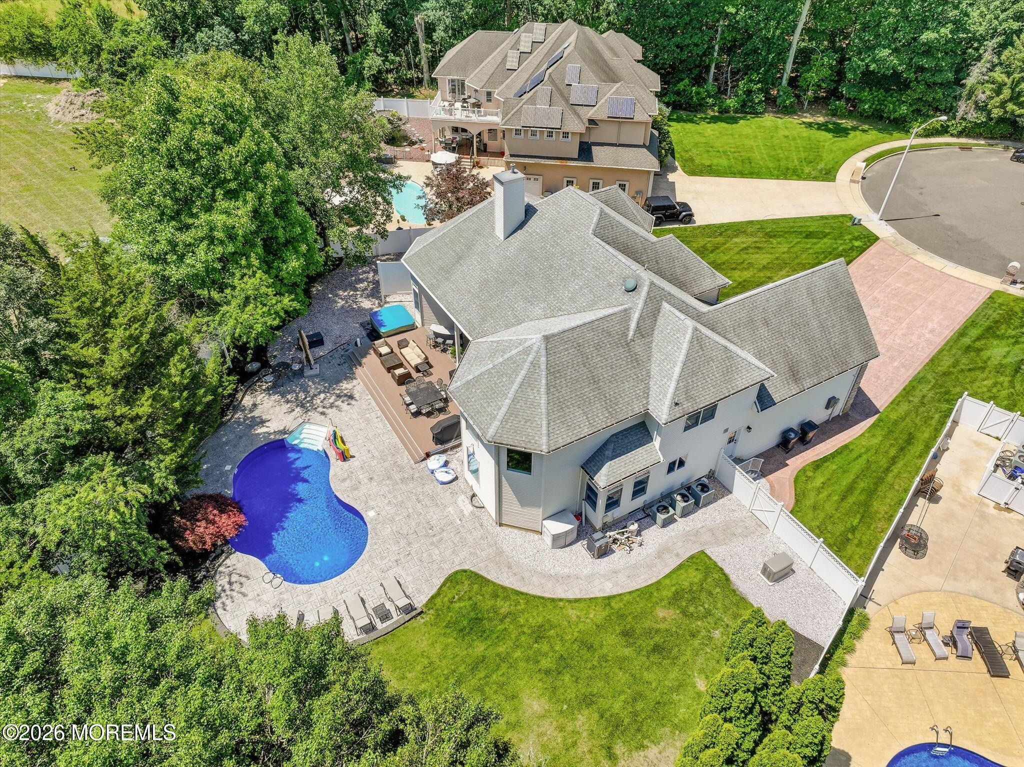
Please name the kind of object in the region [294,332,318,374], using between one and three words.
umbrella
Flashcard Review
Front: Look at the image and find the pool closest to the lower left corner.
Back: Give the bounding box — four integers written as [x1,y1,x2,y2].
[228,421,368,585]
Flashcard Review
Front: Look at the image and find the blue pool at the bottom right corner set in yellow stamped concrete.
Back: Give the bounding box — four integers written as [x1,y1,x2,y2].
[885,740,1009,767]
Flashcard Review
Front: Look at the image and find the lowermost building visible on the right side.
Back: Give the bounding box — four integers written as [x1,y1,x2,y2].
[400,162,881,532]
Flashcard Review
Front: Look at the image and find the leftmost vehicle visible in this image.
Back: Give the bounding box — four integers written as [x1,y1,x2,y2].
[643,191,697,222]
